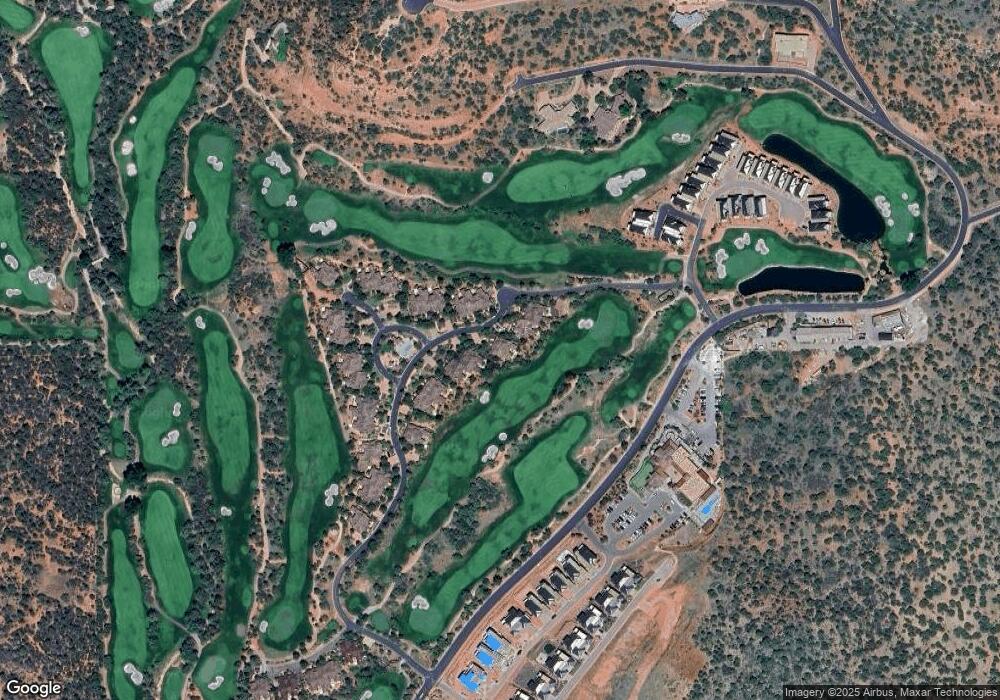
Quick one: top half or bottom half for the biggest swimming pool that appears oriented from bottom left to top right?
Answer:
bottom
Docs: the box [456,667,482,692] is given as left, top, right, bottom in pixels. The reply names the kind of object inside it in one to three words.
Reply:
house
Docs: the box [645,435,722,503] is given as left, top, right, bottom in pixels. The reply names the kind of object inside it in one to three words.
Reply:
building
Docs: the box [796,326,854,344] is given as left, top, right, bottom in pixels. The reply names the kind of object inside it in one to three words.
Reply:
shed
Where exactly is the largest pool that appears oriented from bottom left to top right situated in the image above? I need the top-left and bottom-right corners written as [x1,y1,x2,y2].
[696,490,722,523]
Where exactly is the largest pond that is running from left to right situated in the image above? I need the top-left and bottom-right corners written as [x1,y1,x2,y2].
[740,267,864,295]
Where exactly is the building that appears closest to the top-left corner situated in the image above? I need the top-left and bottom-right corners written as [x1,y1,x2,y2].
[310,259,336,289]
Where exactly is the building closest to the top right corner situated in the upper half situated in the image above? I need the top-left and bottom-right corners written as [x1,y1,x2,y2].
[774,32,809,64]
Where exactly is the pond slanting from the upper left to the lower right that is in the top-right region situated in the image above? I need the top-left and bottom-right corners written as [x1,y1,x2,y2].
[762,134,886,243]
